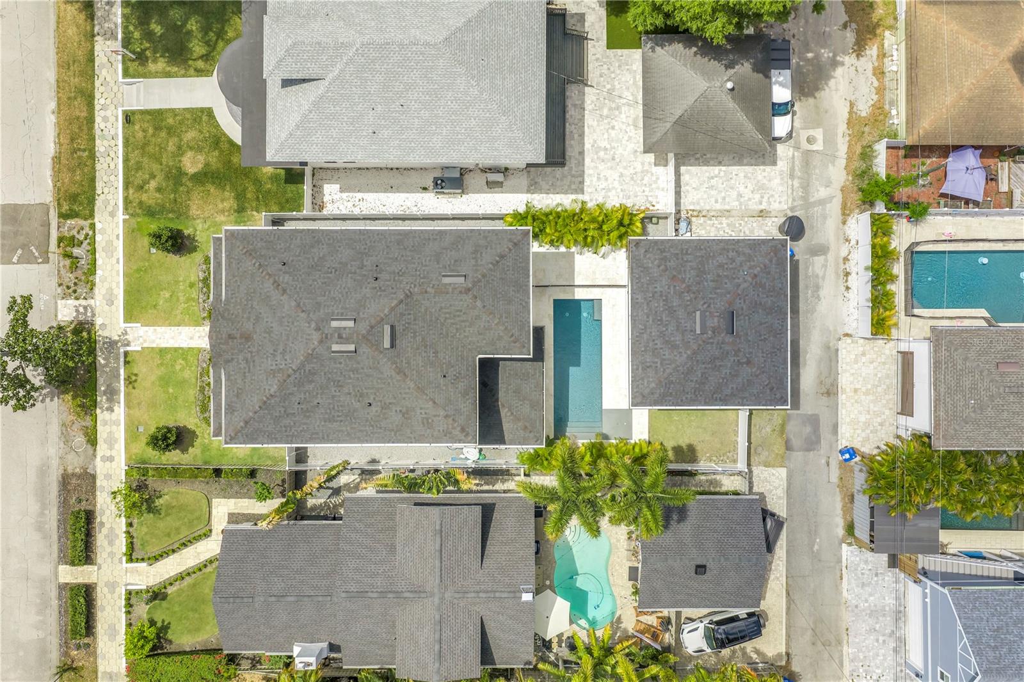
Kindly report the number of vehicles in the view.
3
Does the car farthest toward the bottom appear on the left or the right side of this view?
right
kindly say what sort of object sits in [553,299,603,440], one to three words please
swimming pool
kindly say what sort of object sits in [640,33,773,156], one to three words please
building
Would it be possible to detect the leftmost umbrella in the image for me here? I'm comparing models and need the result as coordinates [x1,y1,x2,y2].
[535,589,571,641]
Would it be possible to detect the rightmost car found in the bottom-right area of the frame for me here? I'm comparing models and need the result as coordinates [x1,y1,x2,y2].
[762,510,792,552]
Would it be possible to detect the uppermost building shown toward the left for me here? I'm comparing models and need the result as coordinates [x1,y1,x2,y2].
[216,0,547,178]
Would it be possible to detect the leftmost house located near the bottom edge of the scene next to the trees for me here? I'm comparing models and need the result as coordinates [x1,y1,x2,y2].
[211,492,536,682]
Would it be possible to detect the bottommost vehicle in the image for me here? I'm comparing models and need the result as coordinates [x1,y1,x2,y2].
[678,611,765,654]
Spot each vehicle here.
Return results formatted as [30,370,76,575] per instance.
[773,39,798,142]
[762,510,792,552]
[678,611,765,654]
